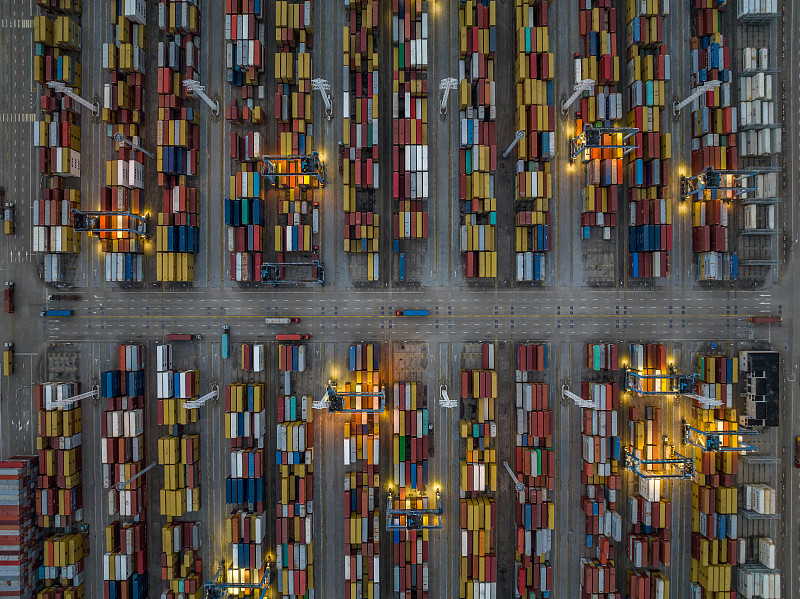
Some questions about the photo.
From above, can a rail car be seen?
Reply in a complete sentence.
No, there appears to be no rail car in this shot.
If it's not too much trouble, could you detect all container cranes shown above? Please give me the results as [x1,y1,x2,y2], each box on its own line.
[325,376,388,415]
[624,360,700,399]
[683,162,762,205]
[257,257,325,291]
[203,558,270,599]
[571,121,641,166]
[259,148,325,190]
[683,413,762,453]
[386,487,445,532]
[66,204,146,245]
[625,441,700,482]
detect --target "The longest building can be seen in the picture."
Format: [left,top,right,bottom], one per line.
[735,350,777,426]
